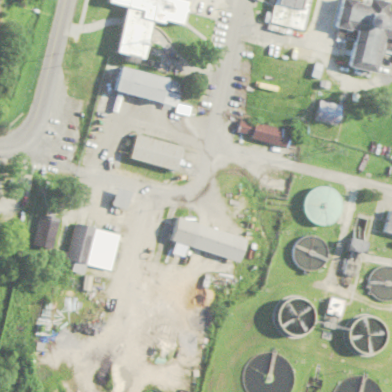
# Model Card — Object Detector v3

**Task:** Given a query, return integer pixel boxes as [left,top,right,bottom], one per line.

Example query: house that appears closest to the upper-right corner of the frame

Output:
[337,0,392,72]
